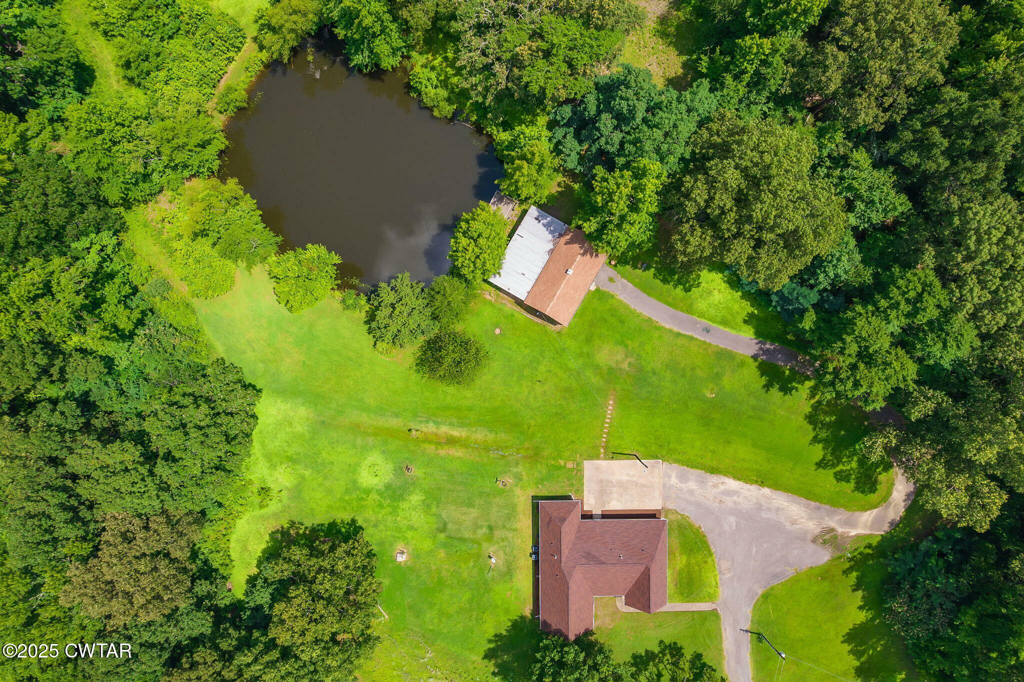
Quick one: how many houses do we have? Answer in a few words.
2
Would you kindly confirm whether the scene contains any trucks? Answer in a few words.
No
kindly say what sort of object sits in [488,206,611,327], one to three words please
house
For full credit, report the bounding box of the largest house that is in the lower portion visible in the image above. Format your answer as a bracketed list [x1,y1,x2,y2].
[533,489,668,641]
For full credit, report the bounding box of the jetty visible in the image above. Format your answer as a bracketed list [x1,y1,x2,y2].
[487,189,516,218]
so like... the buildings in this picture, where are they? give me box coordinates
[488,206,611,327]
[533,489,668,641]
